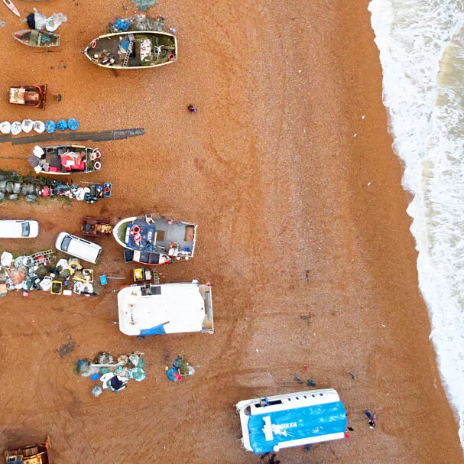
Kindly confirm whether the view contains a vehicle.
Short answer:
Yes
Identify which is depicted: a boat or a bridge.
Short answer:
boat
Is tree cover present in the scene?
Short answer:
No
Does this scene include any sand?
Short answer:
Yes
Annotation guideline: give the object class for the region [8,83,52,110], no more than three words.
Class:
work vehicle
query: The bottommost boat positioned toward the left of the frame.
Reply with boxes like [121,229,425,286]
[114,279,215,337]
